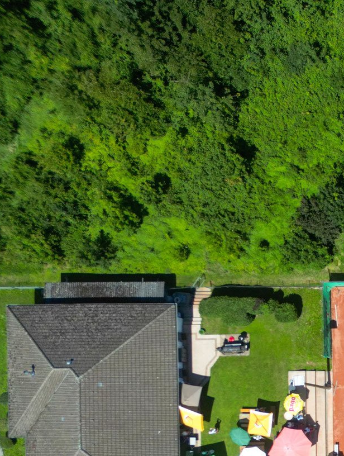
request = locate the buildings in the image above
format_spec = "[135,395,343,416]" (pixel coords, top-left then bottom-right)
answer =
[6,303,180,456]
[44,282,168,300]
